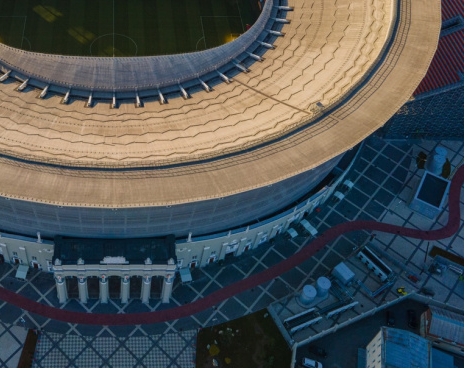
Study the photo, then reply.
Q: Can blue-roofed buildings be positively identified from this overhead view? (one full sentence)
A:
Yes, there's a blue-roofed building here.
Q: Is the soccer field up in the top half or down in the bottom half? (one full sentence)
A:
Seen from above, the soccer field lies in the top half of the view.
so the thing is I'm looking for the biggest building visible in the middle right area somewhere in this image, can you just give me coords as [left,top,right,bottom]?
[410,169,451,218]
